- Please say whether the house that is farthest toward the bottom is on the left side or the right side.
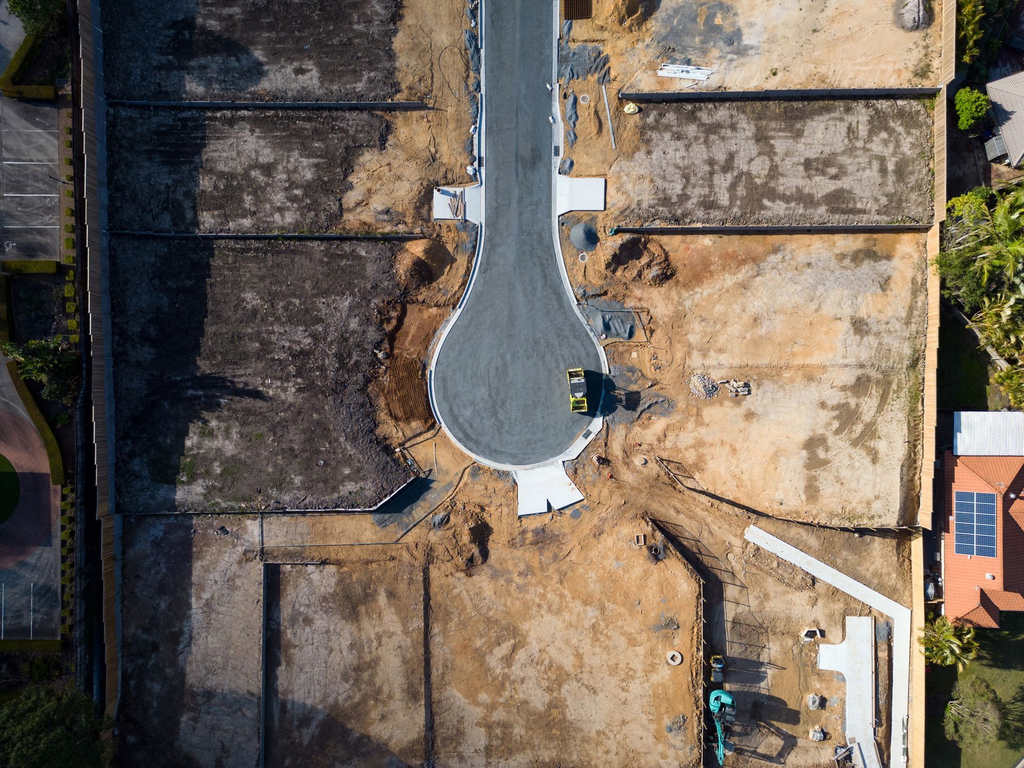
right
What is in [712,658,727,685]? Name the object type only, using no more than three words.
work vehicle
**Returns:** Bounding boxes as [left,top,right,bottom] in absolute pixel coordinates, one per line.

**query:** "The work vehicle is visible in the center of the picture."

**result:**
[568,368,590,415]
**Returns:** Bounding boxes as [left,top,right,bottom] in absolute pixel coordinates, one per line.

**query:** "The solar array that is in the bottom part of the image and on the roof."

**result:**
[955,492,996,556]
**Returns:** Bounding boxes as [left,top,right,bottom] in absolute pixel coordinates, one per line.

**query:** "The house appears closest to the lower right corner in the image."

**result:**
[933,411,1024,628]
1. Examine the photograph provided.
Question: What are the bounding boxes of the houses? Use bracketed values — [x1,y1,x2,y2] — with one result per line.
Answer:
[982,70,1024,169]
[933,411,1024,628]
